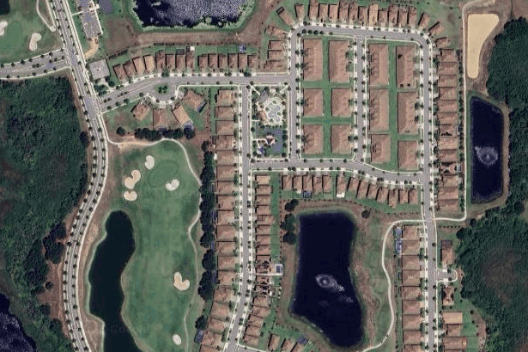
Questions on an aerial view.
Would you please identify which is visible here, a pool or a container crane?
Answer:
pool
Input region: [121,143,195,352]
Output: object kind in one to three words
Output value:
golf course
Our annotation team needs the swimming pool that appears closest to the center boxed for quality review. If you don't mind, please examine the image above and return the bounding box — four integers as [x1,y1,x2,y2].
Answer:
[257,96,285,125]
